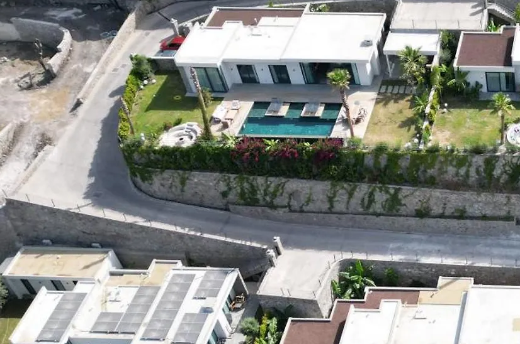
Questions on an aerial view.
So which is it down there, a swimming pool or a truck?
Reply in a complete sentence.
The image shows a swimming pool.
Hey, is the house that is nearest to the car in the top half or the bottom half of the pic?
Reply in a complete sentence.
Seen from above, the house that is nearest to the car lies in the top half of the view.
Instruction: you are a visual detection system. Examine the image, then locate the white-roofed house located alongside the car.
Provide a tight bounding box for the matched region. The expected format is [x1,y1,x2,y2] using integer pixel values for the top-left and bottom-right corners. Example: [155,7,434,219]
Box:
[172,6,387,91]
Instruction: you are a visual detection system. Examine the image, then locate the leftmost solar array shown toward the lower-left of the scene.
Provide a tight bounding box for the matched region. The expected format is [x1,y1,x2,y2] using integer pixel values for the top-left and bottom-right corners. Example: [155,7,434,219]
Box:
[38,292,86,340]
